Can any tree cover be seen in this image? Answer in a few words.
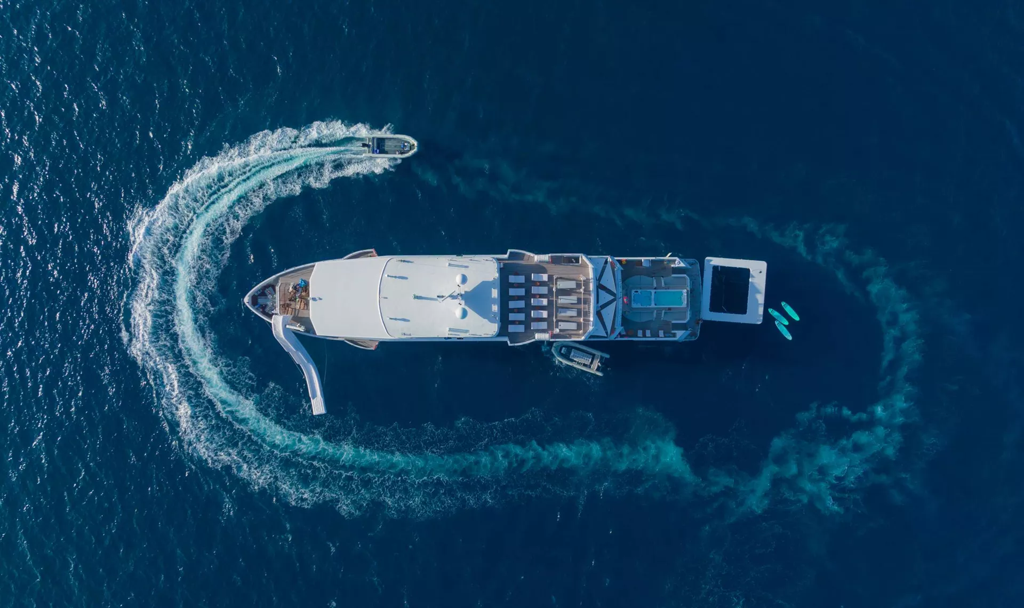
No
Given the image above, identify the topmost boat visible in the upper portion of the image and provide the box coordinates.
[360,134,417,158]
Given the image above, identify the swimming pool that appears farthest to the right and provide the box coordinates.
[701,257,767,324]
